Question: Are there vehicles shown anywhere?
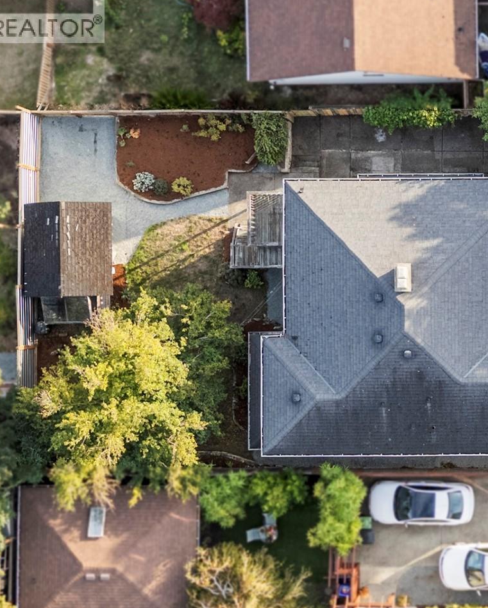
Yes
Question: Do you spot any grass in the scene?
Yes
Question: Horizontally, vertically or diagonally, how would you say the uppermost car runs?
horizontally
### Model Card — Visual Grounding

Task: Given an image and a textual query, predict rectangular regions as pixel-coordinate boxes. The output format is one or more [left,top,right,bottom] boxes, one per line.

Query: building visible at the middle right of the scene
[248,171,488,459]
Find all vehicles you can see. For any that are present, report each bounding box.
[373,480,473,529]
[445,540,488,594]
